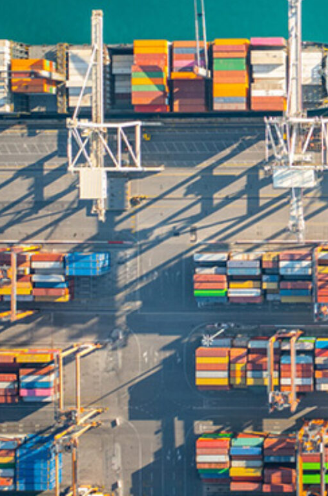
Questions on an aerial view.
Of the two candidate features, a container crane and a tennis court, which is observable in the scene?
container crane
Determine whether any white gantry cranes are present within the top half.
Yes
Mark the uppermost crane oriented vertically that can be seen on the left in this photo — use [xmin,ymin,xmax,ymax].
[70,8,170,219]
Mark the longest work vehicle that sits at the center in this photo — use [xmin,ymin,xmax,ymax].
[127,191,151,206]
